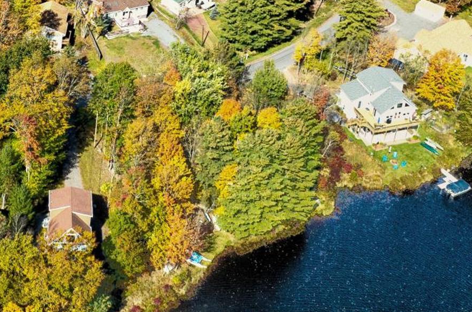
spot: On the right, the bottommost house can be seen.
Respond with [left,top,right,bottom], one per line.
[336,62,428,153]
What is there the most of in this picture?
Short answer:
trees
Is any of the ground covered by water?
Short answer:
Yes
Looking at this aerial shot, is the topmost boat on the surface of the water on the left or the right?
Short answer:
right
